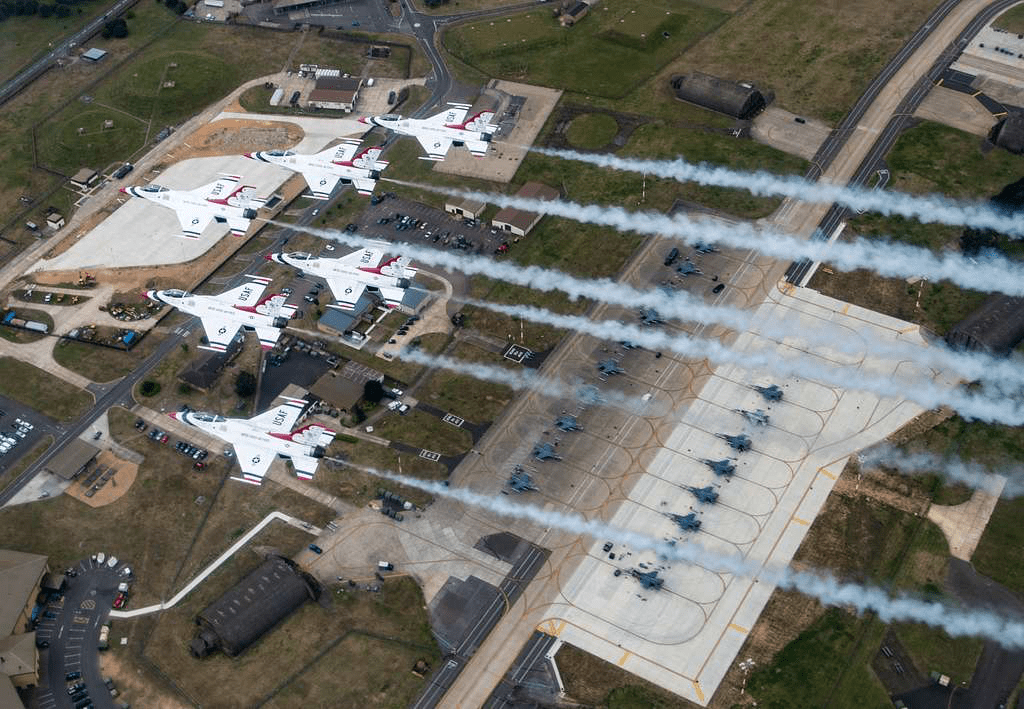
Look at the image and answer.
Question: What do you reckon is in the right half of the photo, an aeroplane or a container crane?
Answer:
aeroplane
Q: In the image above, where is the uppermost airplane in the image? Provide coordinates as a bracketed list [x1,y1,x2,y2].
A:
[354,103,498,160]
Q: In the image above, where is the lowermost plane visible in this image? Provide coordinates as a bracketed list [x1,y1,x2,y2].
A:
[632,569,668,589]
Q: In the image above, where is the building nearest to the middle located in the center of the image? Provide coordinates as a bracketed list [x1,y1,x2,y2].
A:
[399,283,433,312]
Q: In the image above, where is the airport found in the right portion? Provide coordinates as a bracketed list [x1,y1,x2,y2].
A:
[291,0,1024,709]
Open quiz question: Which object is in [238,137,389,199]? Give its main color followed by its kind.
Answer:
white airplane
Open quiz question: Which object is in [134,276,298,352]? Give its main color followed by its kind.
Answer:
white airplane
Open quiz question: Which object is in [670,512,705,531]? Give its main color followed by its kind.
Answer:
blue airplane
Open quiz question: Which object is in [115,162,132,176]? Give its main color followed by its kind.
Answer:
black vehicle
